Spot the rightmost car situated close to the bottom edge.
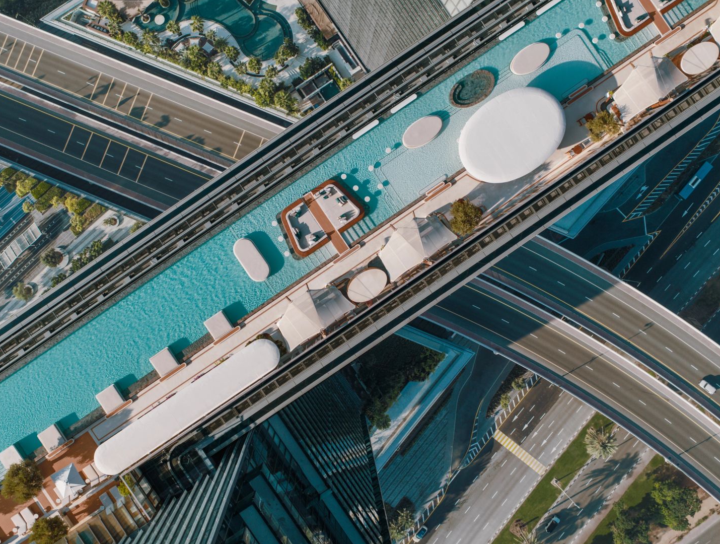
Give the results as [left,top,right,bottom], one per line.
[546,515,559,533]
